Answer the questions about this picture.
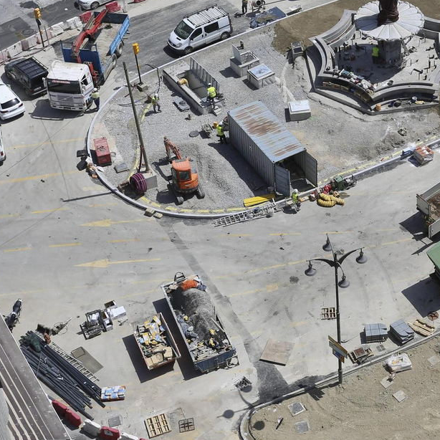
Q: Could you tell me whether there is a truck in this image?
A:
Yes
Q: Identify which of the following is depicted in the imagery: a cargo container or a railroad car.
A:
cargo container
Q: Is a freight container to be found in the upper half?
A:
Yes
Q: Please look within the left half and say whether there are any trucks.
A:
Yes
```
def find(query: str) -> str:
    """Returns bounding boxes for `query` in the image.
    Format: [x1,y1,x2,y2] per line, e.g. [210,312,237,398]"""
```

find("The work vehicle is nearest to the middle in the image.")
[165,128,204,204]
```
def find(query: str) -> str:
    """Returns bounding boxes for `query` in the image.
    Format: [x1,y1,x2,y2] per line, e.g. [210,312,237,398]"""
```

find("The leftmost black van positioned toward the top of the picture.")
[2,58,46,101]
